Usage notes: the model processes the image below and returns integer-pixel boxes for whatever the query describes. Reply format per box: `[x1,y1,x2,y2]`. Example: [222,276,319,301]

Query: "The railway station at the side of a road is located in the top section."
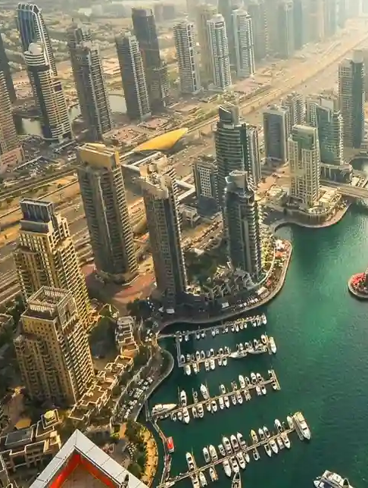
[131,127,193,153]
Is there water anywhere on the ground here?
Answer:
Yes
